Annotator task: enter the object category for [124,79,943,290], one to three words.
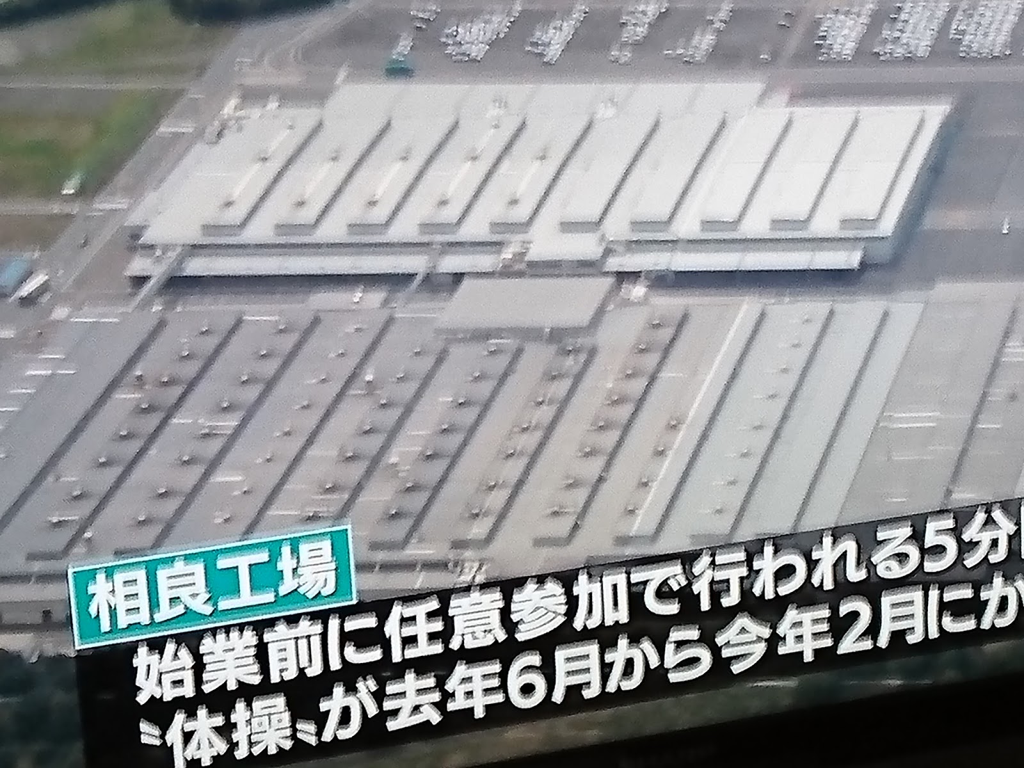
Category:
building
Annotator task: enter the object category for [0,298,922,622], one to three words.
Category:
building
